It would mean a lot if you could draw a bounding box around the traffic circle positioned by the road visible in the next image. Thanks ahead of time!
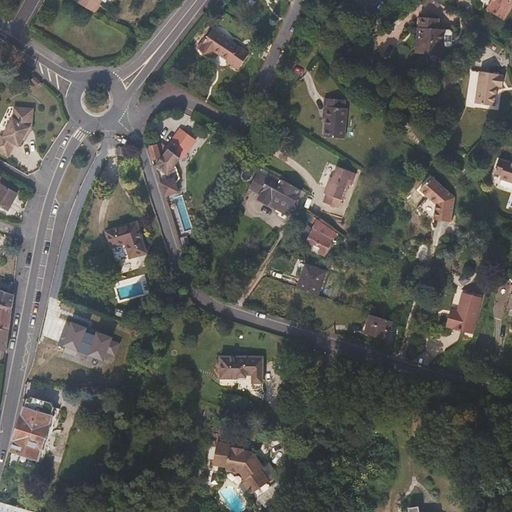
[65,69,134,134]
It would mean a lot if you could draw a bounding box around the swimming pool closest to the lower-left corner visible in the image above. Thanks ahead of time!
[221,488,246,512]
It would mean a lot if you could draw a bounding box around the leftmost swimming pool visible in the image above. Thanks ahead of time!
[114,274,149,303]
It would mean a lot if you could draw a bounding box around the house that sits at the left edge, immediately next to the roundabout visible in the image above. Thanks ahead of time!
[0,107,34,162]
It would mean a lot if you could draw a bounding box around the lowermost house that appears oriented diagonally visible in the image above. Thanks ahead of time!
[213,442,271,495]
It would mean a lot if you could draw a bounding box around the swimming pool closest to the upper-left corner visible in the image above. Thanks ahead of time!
[168,193,193,236]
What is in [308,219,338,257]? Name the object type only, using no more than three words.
house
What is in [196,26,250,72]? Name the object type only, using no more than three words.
house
